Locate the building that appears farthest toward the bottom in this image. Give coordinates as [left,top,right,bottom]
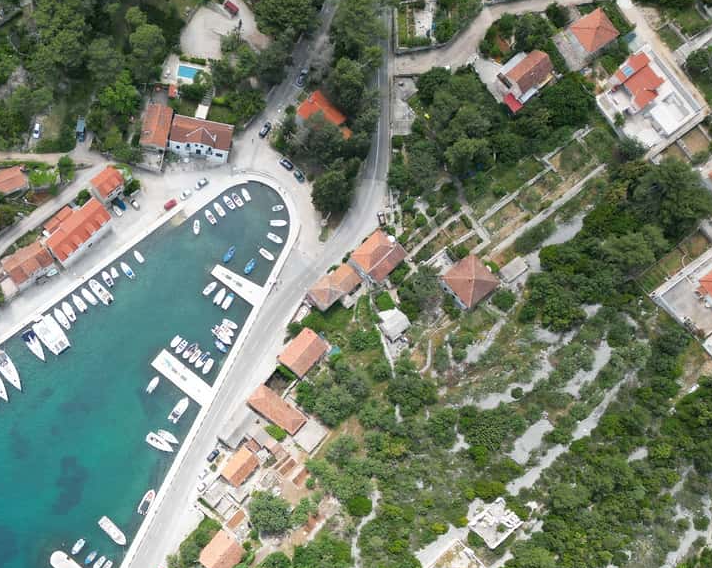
[199,530,243,568]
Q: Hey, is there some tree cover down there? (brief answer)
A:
Yes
